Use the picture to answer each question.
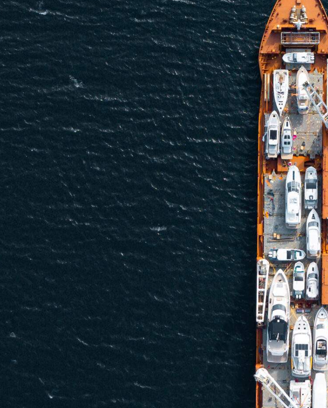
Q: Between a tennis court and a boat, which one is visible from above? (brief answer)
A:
boat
